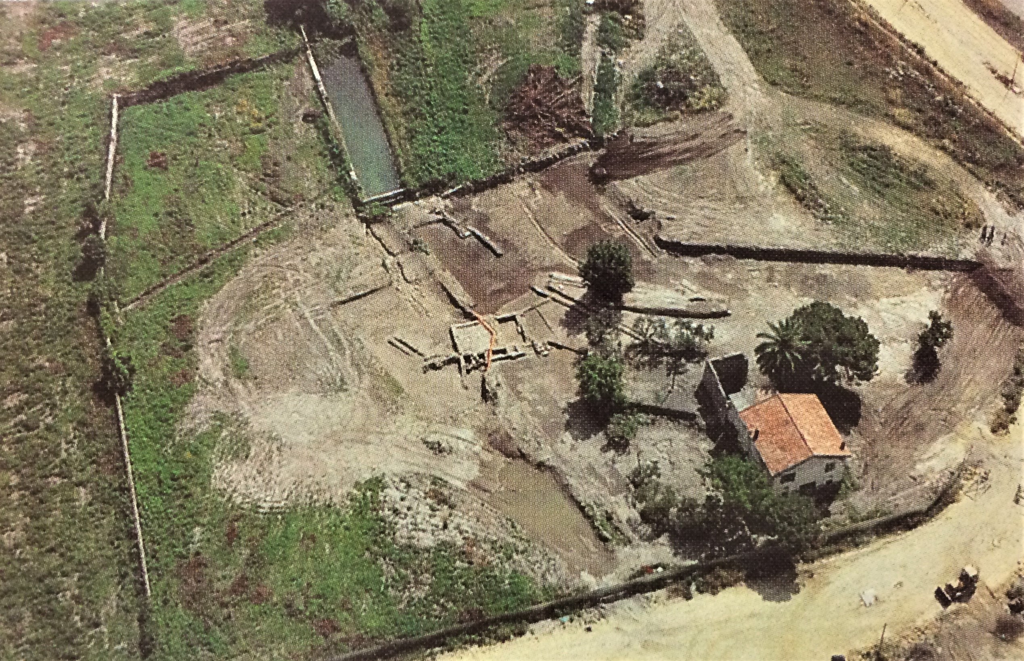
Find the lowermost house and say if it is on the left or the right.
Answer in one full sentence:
The lowermost house is on the right side of the image.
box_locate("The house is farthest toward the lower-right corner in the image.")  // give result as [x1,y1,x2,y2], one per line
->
[716,393,852,496]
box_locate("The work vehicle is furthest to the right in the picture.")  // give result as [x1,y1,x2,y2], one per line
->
[938,568,984,606]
